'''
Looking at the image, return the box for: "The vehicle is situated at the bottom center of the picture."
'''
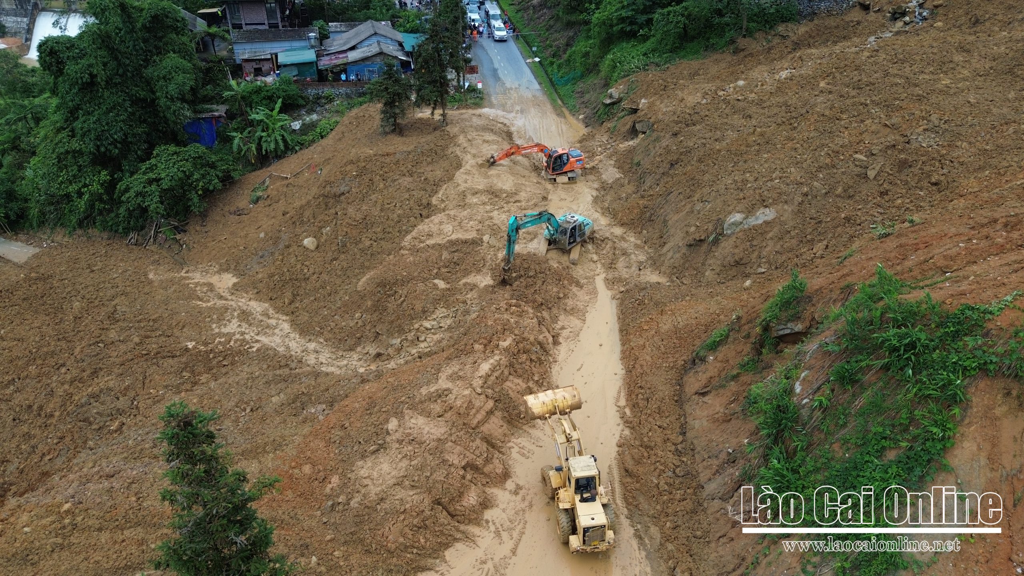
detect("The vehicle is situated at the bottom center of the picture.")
[521,391,616,557]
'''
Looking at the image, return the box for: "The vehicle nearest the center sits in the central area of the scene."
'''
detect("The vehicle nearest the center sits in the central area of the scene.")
[496,210,600,282]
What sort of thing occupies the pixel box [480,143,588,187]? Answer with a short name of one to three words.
work vehicle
